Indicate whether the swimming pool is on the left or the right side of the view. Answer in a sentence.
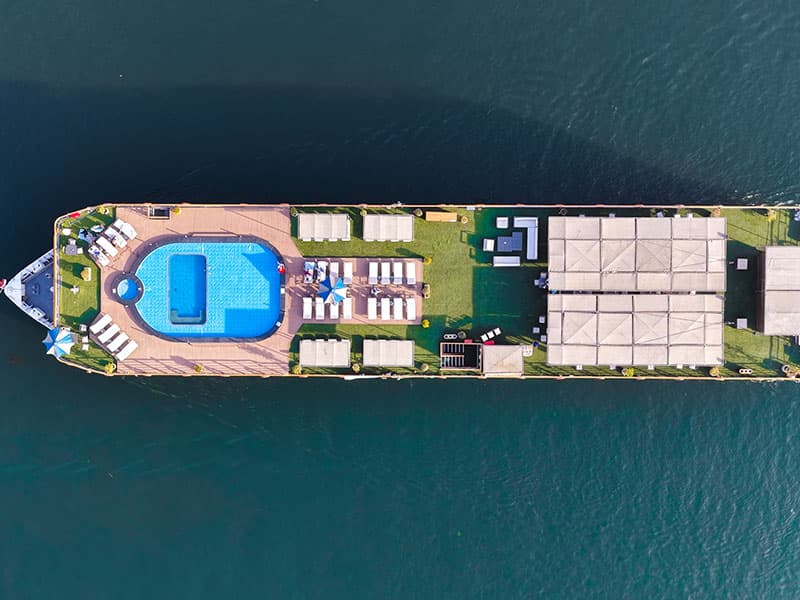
The swimming pool is on the left side of the image.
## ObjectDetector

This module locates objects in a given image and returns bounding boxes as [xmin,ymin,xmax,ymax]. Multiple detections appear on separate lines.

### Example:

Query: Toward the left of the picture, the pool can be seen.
[112,236,287,343]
